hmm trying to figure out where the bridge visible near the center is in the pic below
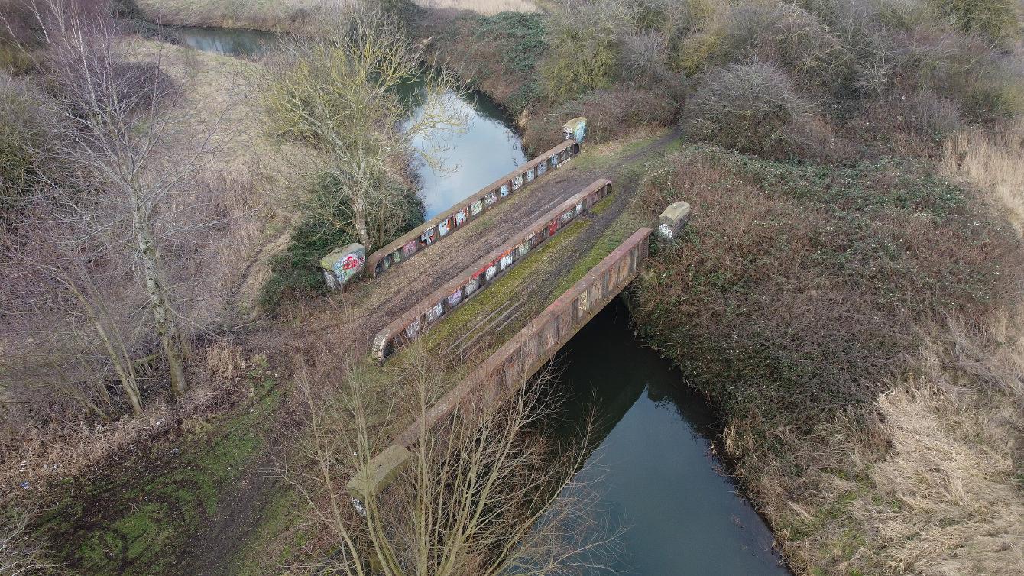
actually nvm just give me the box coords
[358,142,653,485]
